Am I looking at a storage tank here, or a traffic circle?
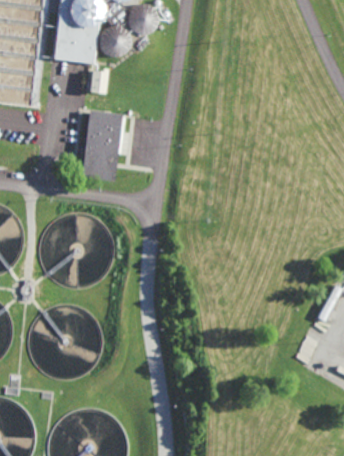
storage tank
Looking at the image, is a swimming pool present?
No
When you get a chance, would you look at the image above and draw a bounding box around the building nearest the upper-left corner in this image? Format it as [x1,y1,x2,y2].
[55,0,99,65]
